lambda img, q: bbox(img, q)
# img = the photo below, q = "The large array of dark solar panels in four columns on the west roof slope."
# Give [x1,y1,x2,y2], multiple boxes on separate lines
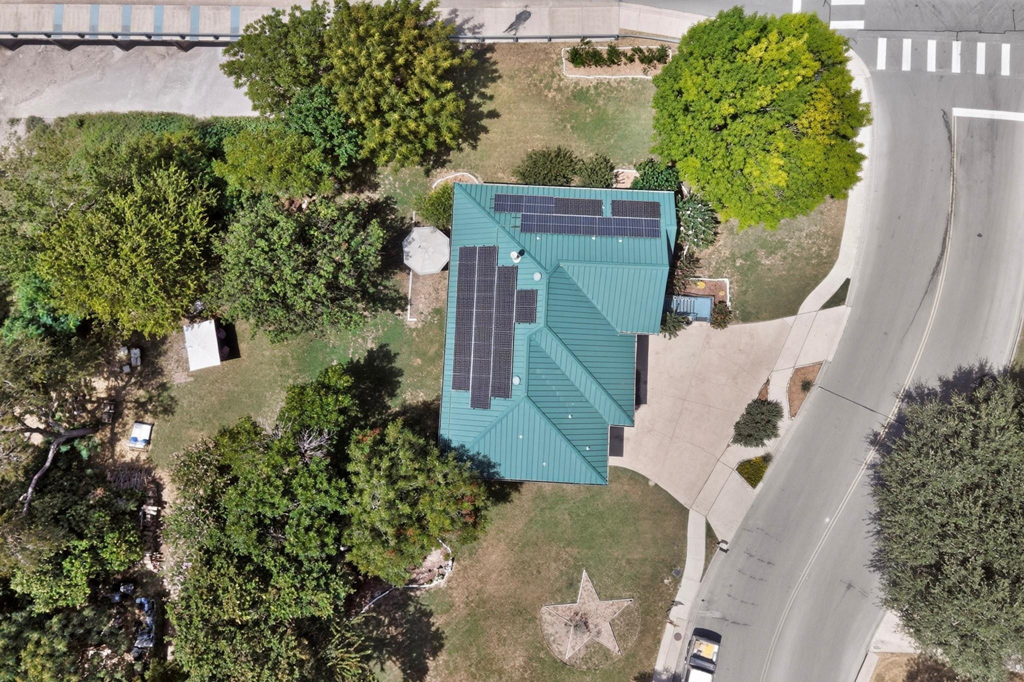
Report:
[451,244,536,410]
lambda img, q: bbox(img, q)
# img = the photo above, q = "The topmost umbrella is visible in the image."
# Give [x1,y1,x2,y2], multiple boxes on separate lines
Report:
[403,227,448,275]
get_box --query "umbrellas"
[184,319,221,371]
[403,227,448,275]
